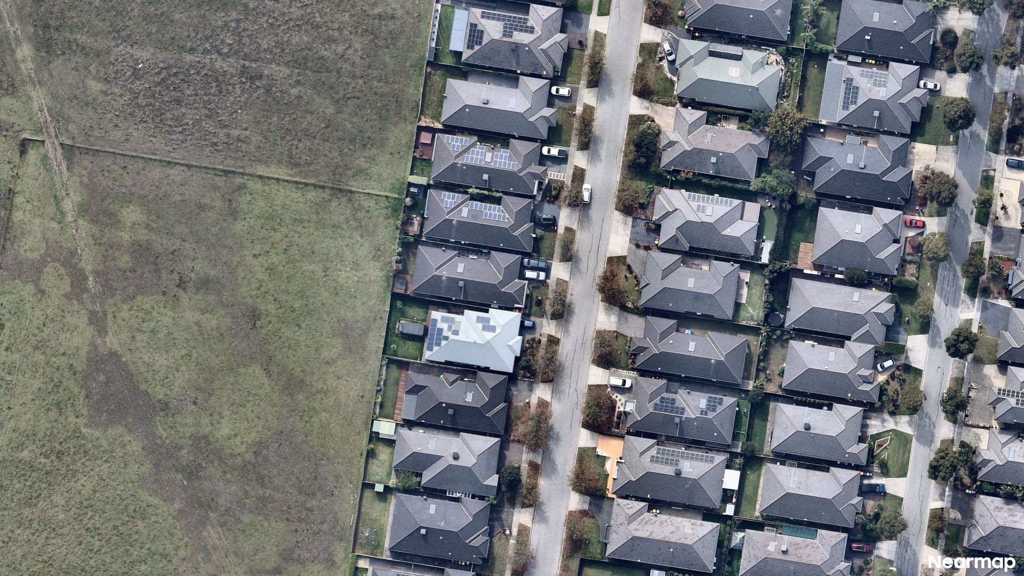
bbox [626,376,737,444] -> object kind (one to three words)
house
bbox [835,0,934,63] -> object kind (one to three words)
house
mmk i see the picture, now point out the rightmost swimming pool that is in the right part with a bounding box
[782,526,816,539]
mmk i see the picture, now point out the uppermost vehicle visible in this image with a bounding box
[662,40,676,62]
